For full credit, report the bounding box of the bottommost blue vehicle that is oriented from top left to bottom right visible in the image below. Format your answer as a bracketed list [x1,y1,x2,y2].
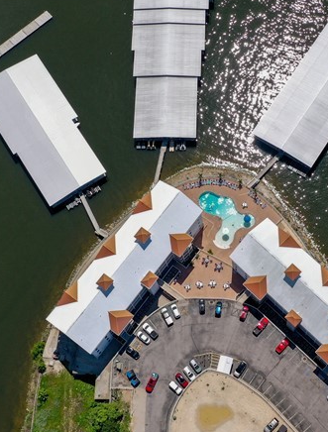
[125,370,139,387]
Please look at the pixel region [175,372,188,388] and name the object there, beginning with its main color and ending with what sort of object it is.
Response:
red vehicle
